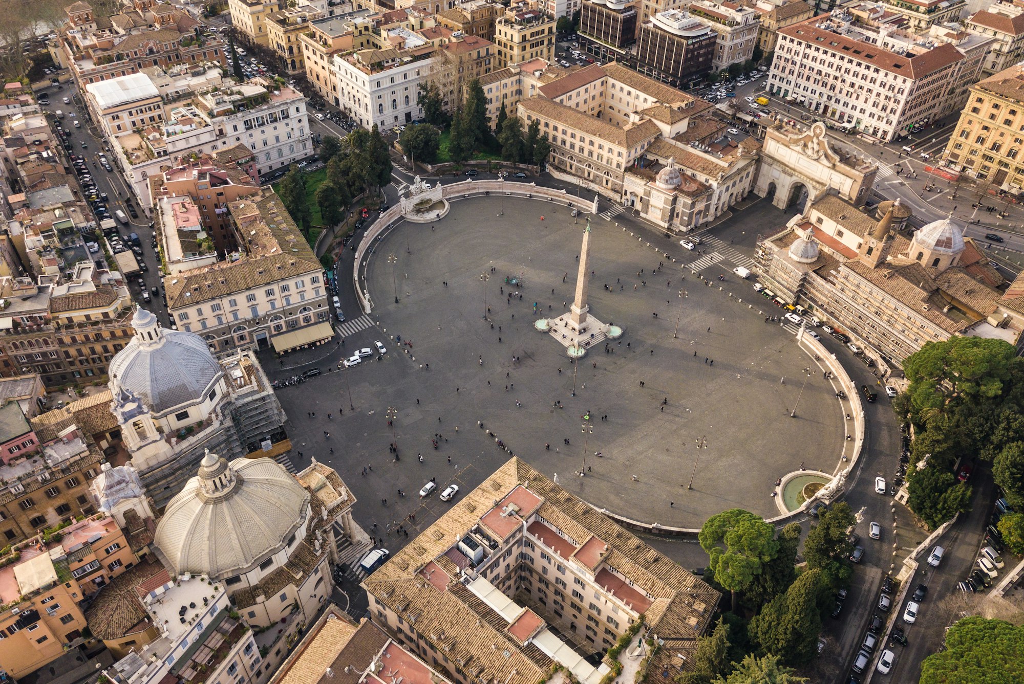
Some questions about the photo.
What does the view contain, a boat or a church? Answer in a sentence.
The image shows a church.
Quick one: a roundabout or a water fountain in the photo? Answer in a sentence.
Visible in the photo is a water fountain.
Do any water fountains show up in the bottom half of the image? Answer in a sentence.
Yes, the scene does show a water fountain in the bottom half of the image.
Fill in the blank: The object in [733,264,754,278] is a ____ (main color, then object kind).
white vehicle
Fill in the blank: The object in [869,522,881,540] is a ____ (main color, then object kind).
gray vehicle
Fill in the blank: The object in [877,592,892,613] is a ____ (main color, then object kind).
gray car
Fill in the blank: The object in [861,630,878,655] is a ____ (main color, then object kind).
gray car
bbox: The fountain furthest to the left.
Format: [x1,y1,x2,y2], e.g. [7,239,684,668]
[393,175,447,219]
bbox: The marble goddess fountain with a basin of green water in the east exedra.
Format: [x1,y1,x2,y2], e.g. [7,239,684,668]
[776,464,858,523]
